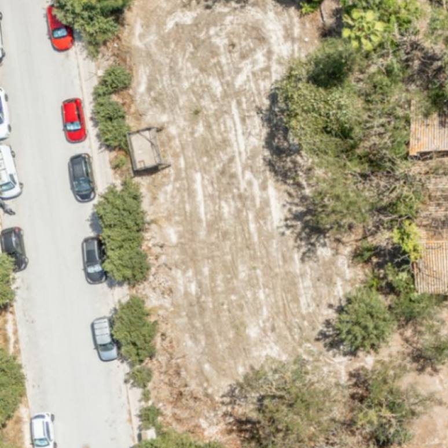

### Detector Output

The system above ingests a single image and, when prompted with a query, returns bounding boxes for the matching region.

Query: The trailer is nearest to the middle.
[123,128,171,172]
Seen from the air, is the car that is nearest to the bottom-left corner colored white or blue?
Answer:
white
